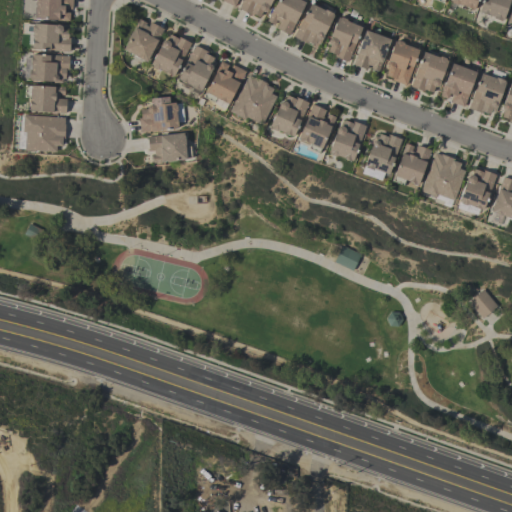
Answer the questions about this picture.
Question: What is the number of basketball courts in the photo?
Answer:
1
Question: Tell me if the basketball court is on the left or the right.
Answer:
left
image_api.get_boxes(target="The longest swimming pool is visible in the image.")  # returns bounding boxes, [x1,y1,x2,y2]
[296,144,319,160]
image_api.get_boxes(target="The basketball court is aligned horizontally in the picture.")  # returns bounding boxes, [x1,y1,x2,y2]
[112,249,208,304]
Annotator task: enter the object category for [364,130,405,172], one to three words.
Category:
house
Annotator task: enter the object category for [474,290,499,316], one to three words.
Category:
building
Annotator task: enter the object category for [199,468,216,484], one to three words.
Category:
camper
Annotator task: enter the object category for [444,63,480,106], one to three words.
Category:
house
